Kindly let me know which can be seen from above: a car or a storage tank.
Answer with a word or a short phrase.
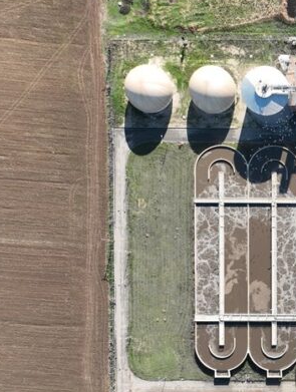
storage tank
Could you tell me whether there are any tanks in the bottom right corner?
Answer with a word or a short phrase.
No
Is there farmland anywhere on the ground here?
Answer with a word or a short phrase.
Yes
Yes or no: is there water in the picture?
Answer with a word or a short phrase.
Yes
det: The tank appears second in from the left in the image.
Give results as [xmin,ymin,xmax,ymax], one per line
[187,64,240,114]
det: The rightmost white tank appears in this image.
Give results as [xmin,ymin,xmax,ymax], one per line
[239,67,296,128]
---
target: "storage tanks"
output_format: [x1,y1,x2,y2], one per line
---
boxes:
[187,64,240,114]
[122,63,182,114]
[239,67,296,128]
